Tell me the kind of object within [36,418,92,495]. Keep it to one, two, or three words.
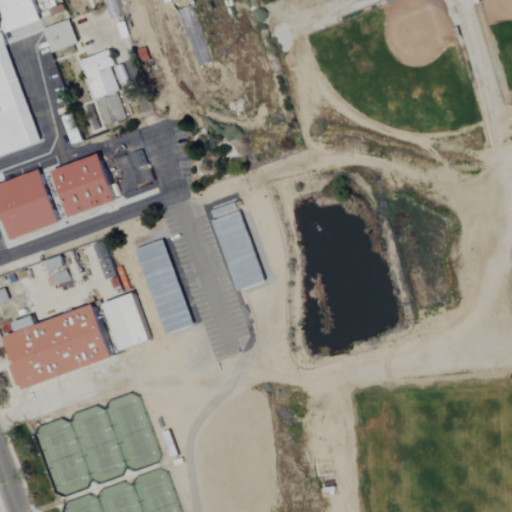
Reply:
tennis court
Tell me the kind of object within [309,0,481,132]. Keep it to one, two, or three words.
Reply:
baseball field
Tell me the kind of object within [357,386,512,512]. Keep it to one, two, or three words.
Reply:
sports field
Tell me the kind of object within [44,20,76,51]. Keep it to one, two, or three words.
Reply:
house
